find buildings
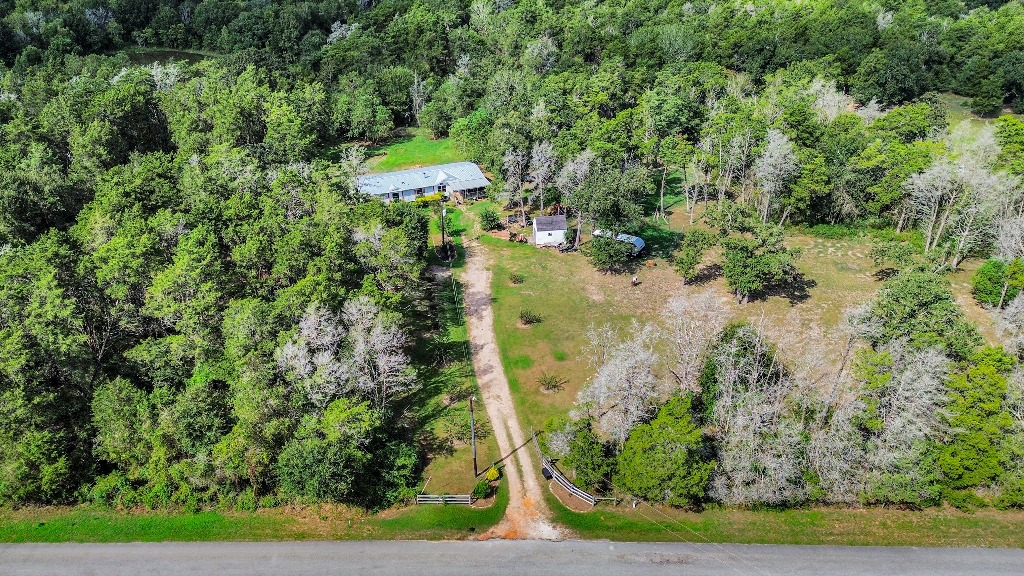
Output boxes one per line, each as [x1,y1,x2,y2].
[525,214,568,246]
[357,161,491,209]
